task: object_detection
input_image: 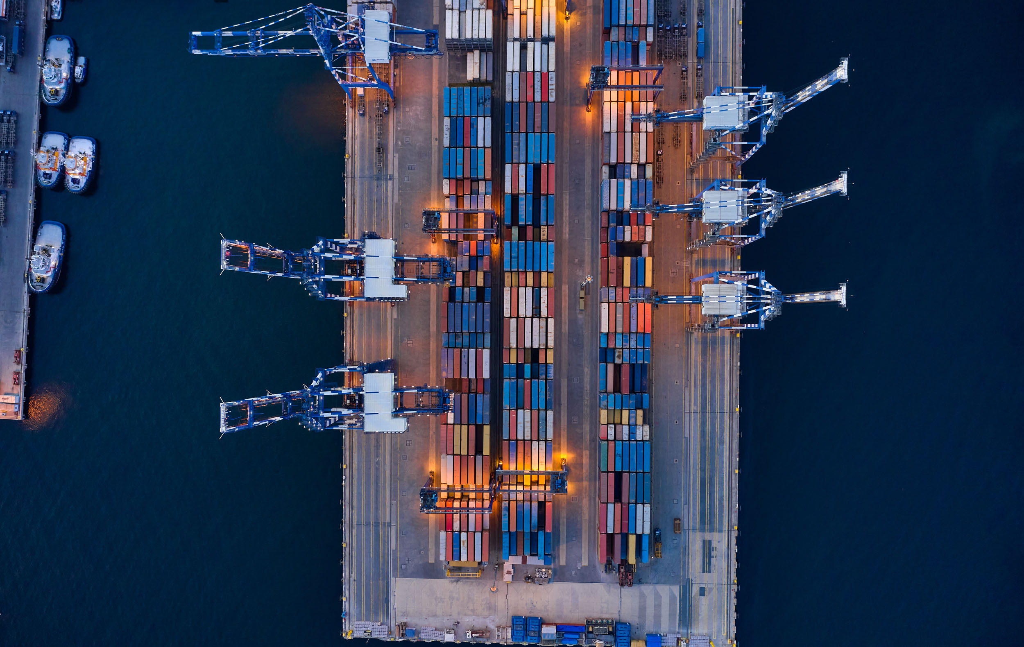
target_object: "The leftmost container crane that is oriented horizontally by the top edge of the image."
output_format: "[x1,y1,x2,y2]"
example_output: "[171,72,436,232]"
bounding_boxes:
[188,0,448,110]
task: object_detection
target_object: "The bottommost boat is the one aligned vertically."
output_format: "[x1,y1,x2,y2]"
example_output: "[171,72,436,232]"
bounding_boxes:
[27,219,67,293]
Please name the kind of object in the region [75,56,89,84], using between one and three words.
boat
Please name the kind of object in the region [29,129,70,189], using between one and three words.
boat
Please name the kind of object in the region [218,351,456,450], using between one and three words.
container crane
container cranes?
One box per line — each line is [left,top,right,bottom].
[219,226,457,310]
[218,351,456,450]
[588,62,667,112]
[188,0,448,110]
[495,455,569,498]
[628,268,848,340]
[420,470,495,515]
[630,58,857,178]
[629,169,856,258]
[423,206,498,244]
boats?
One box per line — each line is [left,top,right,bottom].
[49,0,63,21]
[75,56,89,84]
[57,134,98,195]
[27,219,67,293]
[29,129,70,189]
[36,33,75,106]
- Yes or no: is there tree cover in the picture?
No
